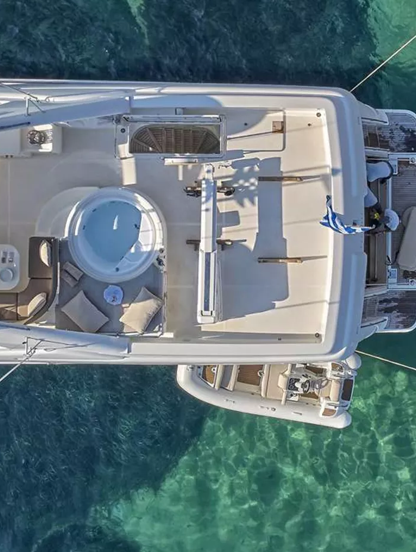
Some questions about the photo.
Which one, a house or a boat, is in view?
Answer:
boat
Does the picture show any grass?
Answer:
No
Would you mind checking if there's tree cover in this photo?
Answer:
No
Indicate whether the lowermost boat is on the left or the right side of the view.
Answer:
right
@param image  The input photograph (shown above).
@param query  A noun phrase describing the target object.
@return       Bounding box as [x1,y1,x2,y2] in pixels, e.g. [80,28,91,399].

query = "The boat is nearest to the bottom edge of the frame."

[178,352,364,426]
